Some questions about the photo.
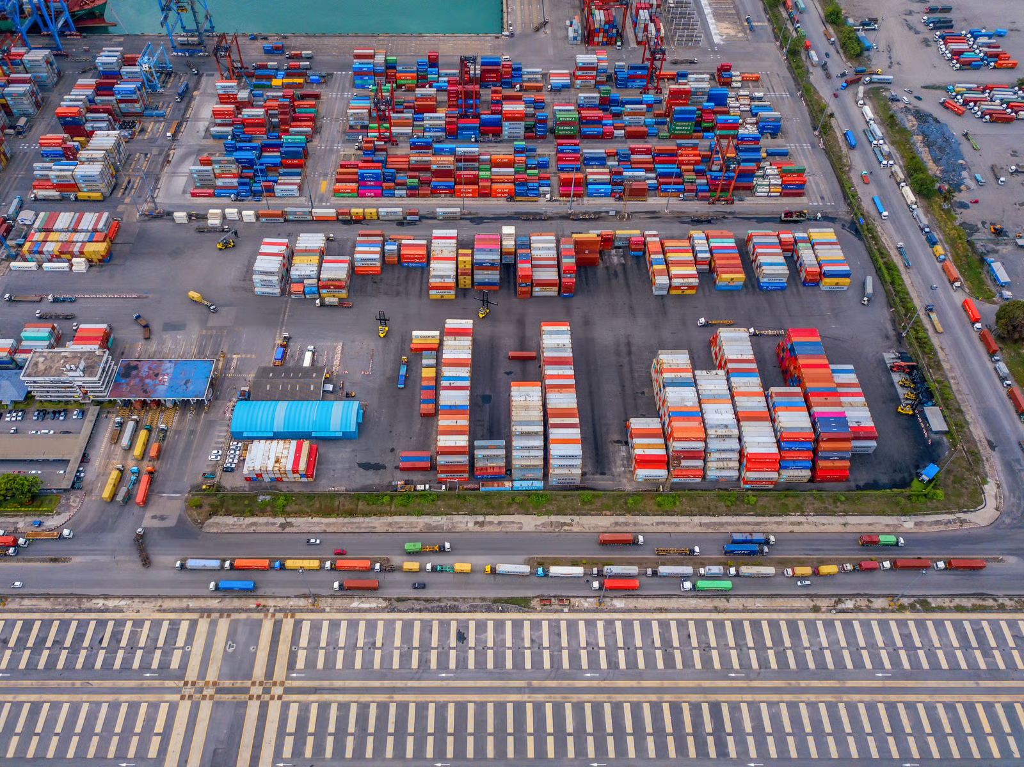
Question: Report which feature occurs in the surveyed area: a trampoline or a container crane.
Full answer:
Of the two, only a container crane appears.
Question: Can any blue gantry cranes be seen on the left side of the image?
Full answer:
Yes, a blue gantry crane shows up on the left side of the image.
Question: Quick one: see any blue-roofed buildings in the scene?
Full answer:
Yes, looking at the shot, I can spot a blue-roofed building.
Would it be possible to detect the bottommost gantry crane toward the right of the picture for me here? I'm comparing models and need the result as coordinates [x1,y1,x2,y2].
[705,131,742,200]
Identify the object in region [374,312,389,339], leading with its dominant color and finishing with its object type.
yellow work vehicle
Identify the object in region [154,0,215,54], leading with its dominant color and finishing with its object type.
blue container crane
